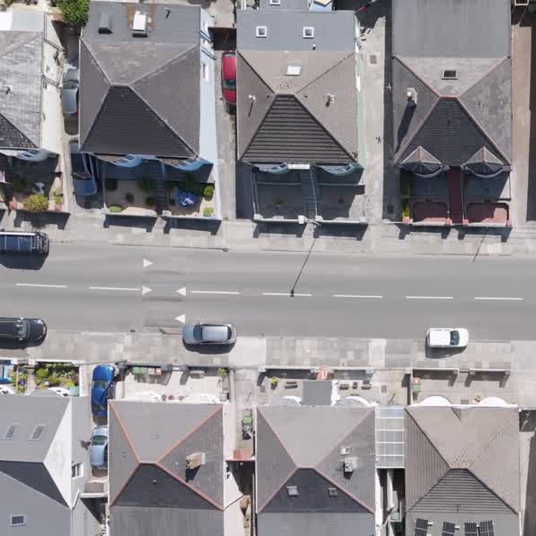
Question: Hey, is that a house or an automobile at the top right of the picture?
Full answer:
What appears at the top right of the picture is a house.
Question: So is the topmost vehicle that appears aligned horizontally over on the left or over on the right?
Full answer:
The topmost vehicle that appears aligned horizontally is on the left side of the image.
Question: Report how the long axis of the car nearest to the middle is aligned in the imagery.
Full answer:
The car nearest to the middle is laid out from left to right.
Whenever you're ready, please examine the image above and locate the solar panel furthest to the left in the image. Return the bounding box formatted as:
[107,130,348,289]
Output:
[414,520,432,536]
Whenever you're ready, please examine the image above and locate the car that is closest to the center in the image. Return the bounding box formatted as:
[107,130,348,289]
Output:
[184,322,236,346]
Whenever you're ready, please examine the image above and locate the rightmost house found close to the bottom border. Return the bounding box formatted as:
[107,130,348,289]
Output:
[404,393,519,536]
